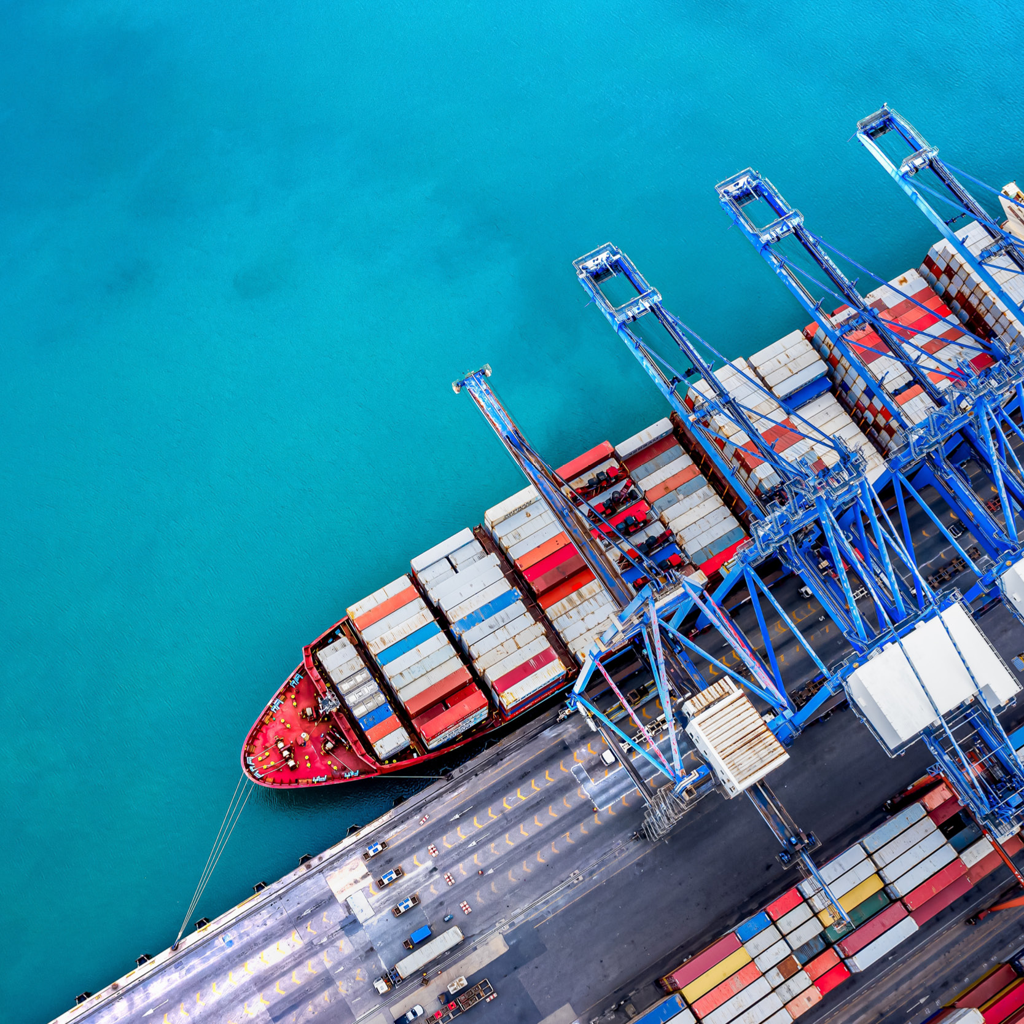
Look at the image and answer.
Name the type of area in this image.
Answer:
port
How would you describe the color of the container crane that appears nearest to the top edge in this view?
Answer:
blue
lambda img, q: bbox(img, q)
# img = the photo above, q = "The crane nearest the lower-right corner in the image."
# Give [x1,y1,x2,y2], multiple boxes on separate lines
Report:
[880,752,1024,933]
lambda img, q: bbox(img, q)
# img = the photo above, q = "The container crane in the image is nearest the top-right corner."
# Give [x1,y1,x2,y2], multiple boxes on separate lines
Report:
[850,99,1024,340]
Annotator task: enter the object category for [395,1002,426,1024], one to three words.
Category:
truck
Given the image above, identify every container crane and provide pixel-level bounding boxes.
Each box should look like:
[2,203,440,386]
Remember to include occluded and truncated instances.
[850,99,1024,340]
[712,162,1024,636]
[436,361,884,983]
[880,752,1024,933]
[569,236,1024,862]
